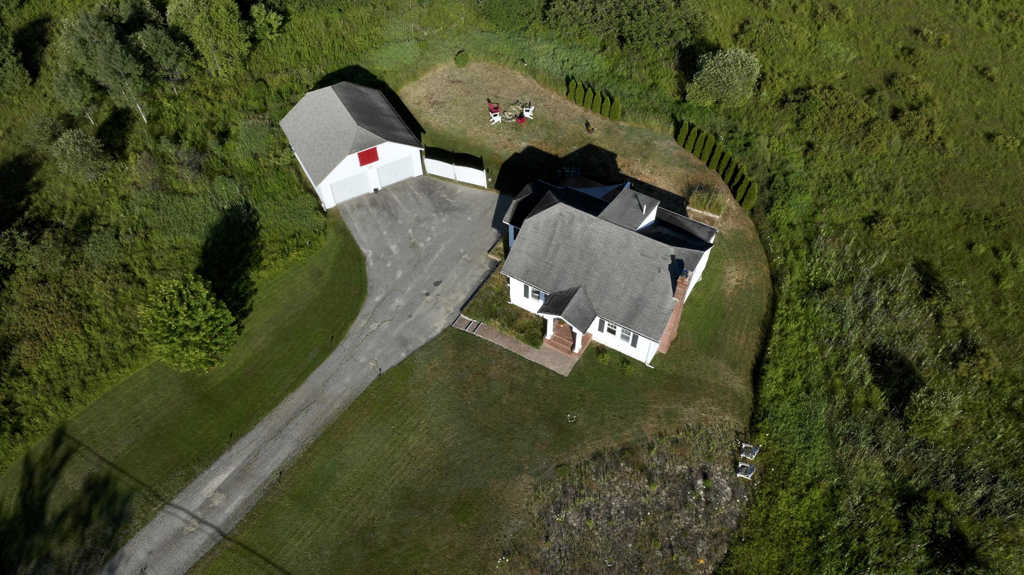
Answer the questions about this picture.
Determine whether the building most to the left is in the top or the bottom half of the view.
top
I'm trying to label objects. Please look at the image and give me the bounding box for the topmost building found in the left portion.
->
[277,81,425,211]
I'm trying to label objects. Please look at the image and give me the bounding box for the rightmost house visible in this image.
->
[499,180,719,371]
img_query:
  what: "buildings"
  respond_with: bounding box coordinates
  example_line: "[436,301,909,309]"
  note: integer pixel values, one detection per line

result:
[277,81,425,211]
[499,180,719,371]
